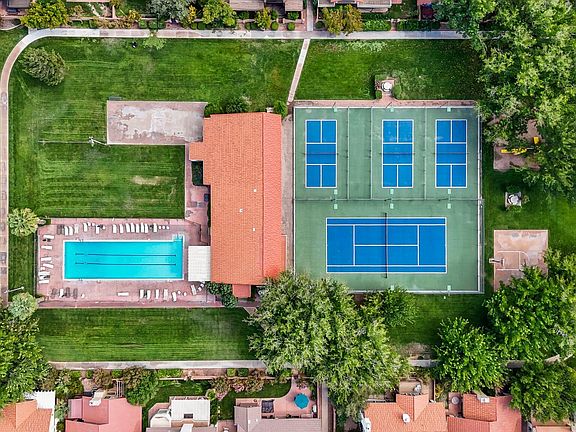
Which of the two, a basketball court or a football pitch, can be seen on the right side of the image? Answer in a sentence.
You can see a basketball court on the right side of the image.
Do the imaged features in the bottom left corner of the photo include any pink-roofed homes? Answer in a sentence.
Yes, there is a pink-roofed home in the bottom left corner of the photo.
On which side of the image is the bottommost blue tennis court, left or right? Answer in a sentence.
You can find the bottommost blue tennis court on the right side of the picture.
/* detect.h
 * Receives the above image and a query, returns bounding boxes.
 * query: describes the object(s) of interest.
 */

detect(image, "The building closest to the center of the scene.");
[189,107,287,299]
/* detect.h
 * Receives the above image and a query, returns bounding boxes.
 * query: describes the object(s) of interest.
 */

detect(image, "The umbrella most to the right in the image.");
[294,394,309,410]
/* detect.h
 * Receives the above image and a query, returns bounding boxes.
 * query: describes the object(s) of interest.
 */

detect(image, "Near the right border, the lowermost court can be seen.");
[494,230,548,299]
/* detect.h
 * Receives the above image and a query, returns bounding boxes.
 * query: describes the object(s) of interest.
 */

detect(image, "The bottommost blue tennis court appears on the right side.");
[326,213,447,278]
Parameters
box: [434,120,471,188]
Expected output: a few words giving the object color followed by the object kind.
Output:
blue sports court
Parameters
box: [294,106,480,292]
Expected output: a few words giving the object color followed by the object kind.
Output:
green sports court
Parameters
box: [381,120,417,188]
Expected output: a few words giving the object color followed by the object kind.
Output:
blue sports court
